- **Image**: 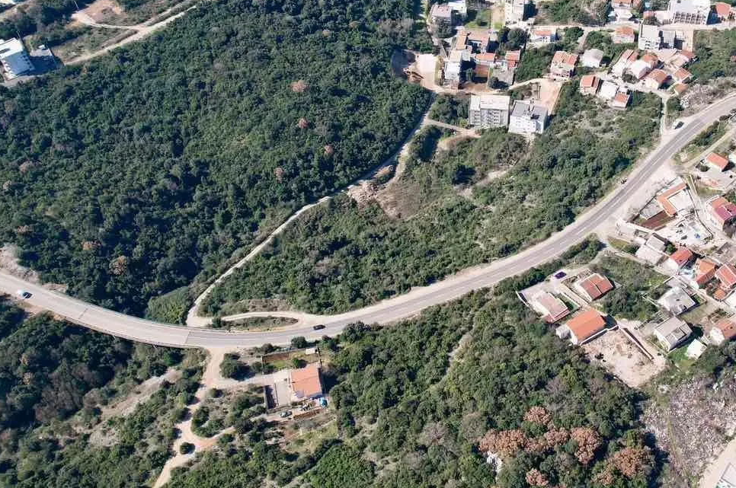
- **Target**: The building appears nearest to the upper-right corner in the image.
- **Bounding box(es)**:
[712,0,731,24]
